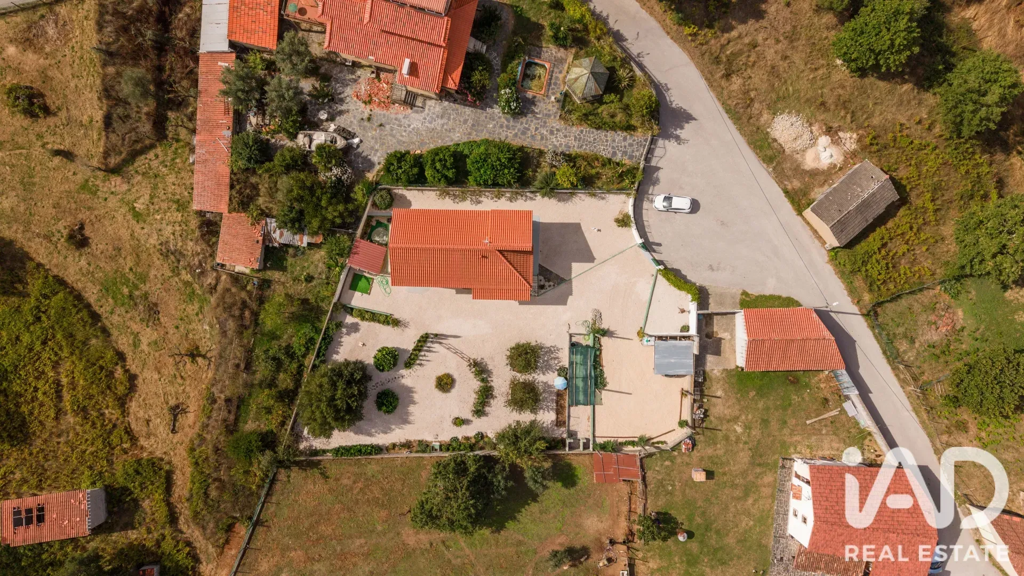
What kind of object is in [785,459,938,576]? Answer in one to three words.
house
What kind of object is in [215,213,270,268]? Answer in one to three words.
shed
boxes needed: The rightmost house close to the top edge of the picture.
[286,0,487,106]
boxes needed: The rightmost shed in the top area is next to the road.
[806,160,900,247]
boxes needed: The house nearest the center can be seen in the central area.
[389,209,540,302]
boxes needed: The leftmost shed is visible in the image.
[0,483,106,545]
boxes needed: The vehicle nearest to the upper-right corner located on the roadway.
[655,193,694,214]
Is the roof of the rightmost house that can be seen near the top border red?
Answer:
Yes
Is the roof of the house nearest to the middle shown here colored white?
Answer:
No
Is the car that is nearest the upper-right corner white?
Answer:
Yes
